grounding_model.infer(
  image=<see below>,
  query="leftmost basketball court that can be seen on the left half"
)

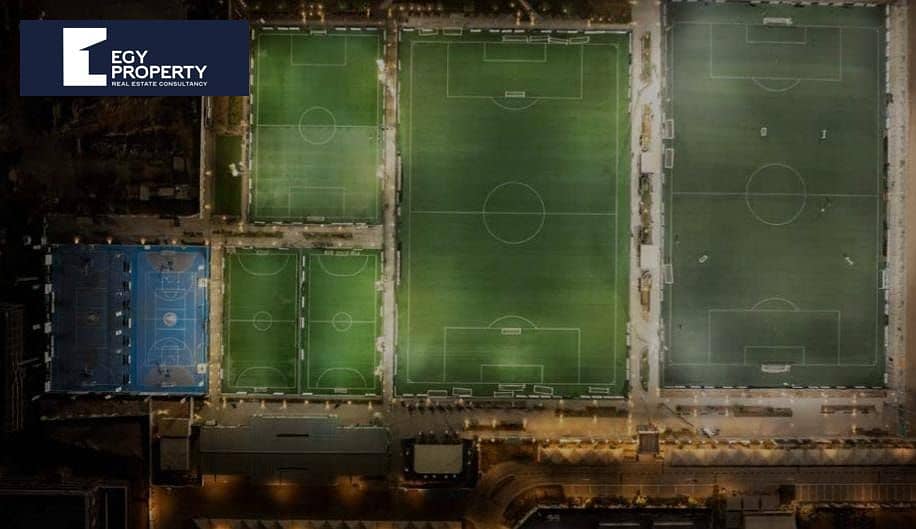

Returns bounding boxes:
[49,245,128,393]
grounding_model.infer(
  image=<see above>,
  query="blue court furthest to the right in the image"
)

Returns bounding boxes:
[129,245,207,394]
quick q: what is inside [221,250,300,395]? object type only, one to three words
soccer field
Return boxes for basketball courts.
[49,245,128,393]
[129,245,207,394]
